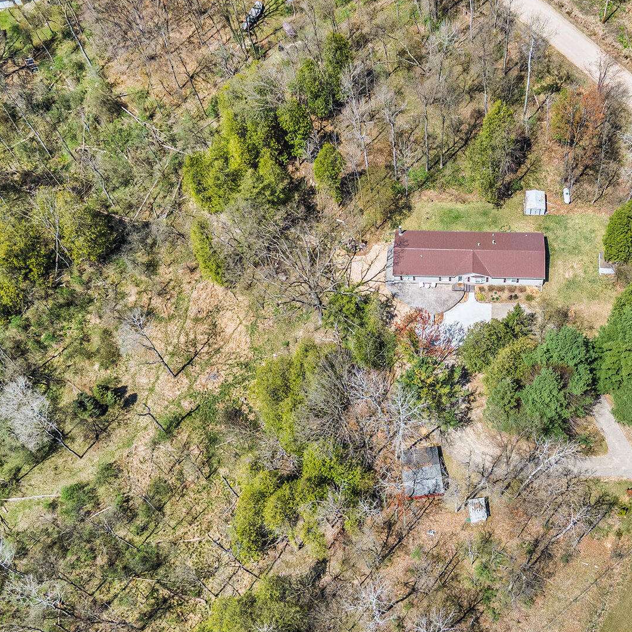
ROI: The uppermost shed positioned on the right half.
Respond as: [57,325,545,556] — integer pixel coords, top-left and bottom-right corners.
[525,187,547,215]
